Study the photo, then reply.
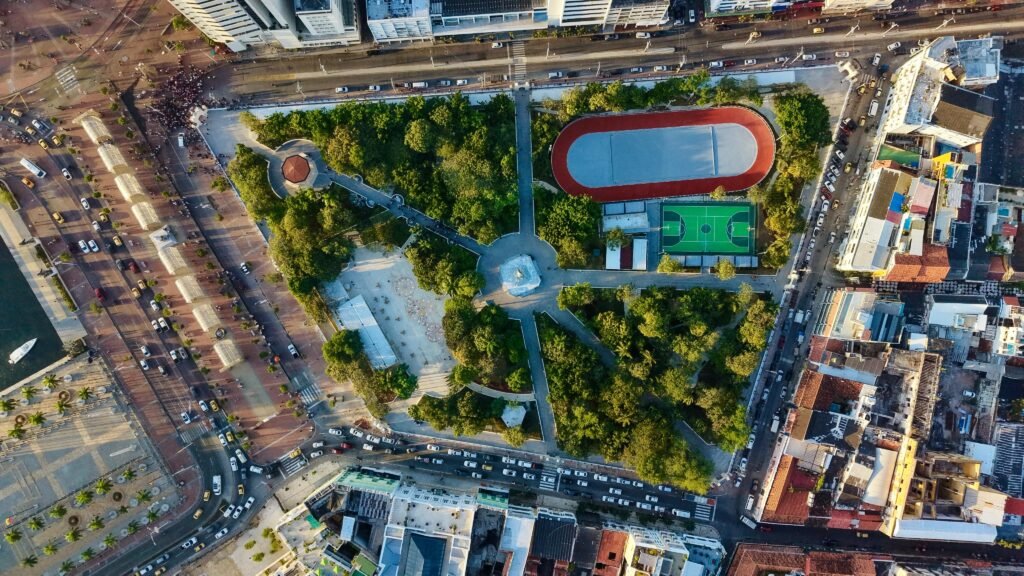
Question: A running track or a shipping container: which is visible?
running track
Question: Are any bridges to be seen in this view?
No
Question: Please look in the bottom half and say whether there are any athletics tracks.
No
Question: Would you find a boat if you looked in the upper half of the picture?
No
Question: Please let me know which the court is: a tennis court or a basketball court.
basketball court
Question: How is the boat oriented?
at an angle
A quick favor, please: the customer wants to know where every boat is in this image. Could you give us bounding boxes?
[7,339,38,363]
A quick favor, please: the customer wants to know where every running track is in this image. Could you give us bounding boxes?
[552,104,777,203]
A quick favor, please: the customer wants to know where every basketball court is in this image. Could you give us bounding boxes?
[660,202,757,257]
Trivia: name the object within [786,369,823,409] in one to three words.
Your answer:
building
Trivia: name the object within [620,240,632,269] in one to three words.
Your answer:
shed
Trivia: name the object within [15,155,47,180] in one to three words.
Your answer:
bus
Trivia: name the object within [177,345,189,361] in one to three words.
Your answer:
vehicle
